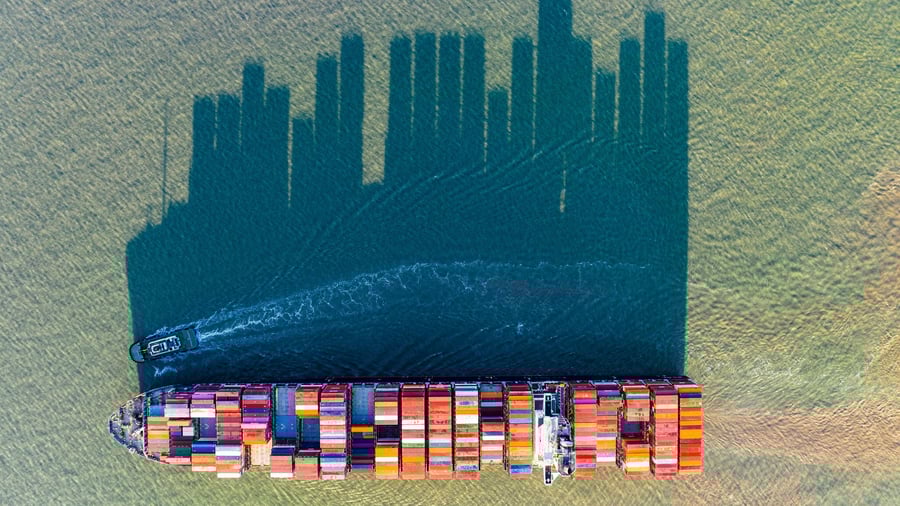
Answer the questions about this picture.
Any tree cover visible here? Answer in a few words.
No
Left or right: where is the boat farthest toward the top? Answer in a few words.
left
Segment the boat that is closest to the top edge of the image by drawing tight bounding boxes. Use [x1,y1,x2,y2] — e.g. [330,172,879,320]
[129,326,200,360]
